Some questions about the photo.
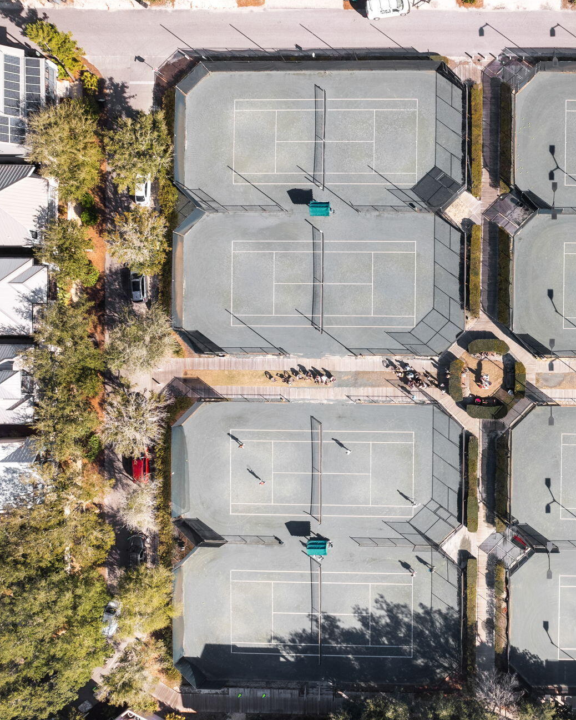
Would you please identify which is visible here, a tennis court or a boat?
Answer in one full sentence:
Visible in the photo is a tennis court.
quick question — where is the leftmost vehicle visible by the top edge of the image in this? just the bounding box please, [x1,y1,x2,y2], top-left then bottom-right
[366,0,408,18]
